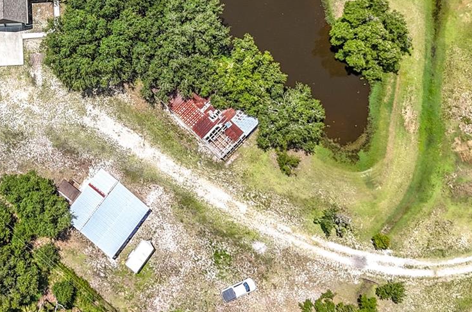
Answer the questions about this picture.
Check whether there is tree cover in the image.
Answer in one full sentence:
Yes, some tree cover is visible.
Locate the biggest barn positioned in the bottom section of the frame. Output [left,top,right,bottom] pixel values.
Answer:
[64,168,153,260]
